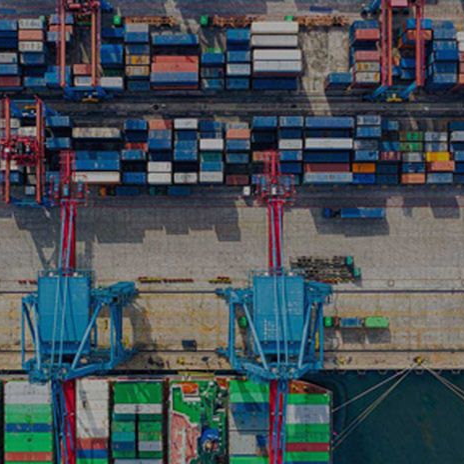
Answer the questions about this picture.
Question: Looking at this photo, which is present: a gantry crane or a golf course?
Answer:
gantry crane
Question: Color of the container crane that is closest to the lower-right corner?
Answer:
blue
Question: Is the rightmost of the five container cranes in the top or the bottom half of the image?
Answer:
top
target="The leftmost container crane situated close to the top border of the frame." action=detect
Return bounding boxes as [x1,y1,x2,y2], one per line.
[54,0,113,101]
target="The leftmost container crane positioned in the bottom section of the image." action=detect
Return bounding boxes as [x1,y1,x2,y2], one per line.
[19,148,136,464]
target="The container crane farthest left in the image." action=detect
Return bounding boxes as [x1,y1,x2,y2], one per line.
[1,96,62,209]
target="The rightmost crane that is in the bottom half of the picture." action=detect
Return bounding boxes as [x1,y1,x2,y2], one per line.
[216,148,332,464]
